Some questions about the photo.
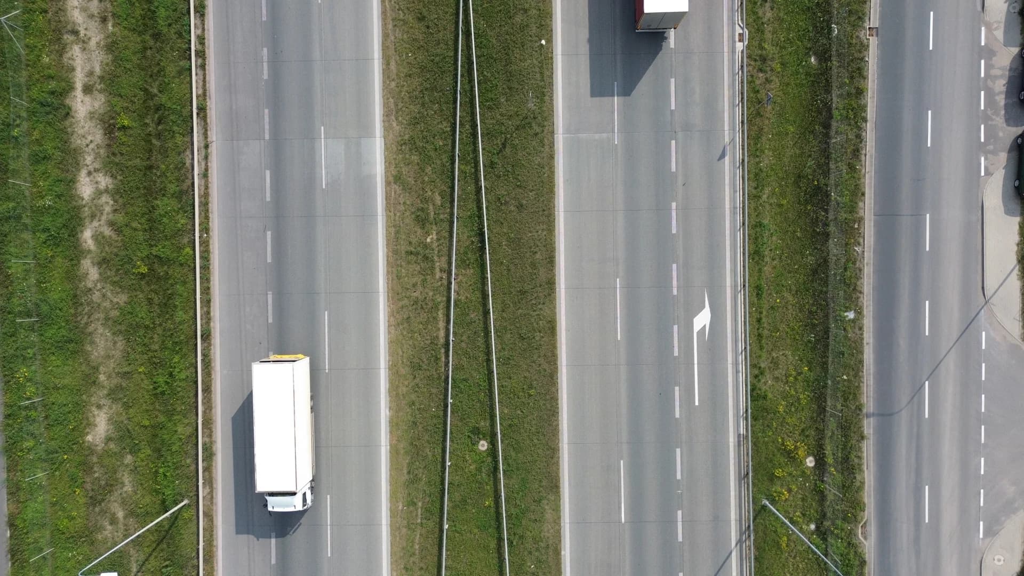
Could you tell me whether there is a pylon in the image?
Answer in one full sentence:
No, the photo shows no pylon.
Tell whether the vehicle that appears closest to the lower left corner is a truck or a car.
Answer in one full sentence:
From above, the vehicle that appears closest to the lower left corner can be identified as a truck.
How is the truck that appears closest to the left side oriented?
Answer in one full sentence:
I'd say the truck that appears closest to the left side is aligned up and down in the picture.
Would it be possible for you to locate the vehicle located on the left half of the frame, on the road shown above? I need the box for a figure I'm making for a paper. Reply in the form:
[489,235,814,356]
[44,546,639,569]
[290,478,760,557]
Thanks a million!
[252,355,317,510]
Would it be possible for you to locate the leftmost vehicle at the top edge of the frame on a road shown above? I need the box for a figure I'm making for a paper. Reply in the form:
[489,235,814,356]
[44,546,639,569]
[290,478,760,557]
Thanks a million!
[634,0,689,35]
